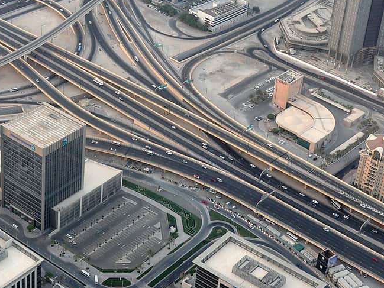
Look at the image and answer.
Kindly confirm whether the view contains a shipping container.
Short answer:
No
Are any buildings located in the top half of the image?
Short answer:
Yes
